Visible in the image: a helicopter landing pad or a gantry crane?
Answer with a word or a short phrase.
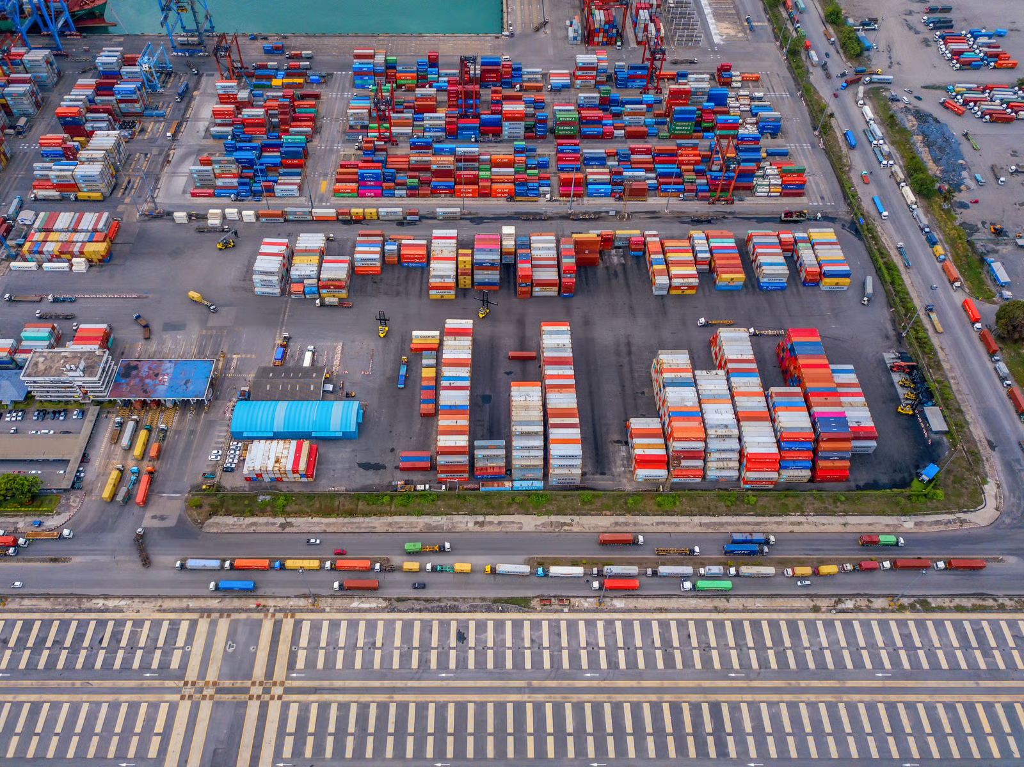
gantry crane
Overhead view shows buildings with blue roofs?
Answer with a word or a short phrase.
Yes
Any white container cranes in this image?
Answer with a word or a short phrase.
No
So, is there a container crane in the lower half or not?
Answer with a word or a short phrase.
No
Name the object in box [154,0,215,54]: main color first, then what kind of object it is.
blue container crane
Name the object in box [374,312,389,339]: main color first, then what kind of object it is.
yellow work vehicle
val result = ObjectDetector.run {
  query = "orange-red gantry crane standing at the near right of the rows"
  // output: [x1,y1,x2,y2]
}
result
[705,131,742,200]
